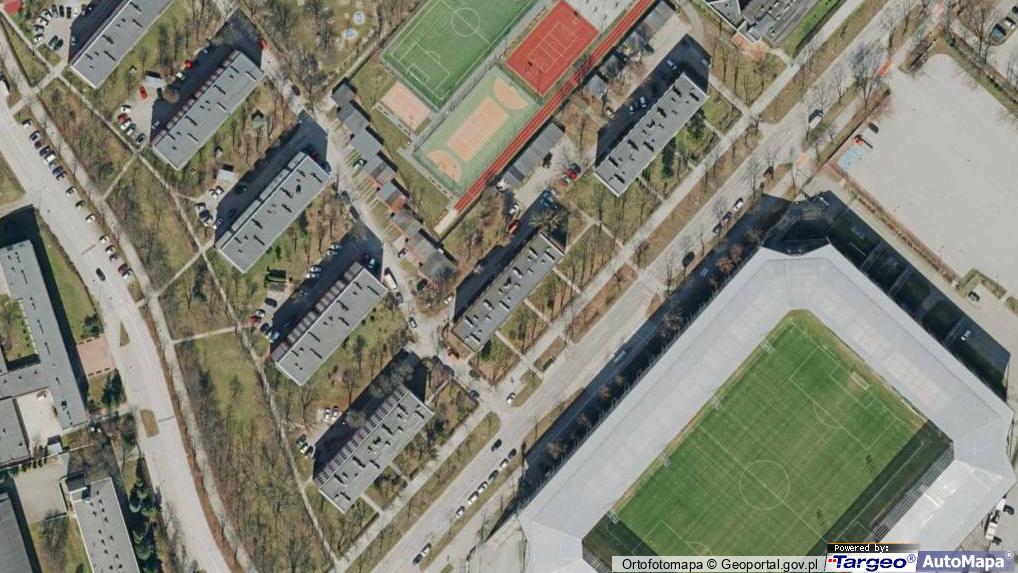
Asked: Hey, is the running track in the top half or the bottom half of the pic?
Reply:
top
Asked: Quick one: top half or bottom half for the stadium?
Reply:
bottom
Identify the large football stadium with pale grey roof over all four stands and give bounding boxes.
[512,235,1018,573]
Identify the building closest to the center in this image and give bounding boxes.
[452,230,565,351]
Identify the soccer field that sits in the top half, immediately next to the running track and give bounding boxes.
[382,0,535,108]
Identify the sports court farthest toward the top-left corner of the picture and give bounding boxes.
[380,81,431,131]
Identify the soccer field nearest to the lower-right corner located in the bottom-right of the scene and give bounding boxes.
[586,309,941,573]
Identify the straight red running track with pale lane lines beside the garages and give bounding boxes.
[453,0,651,216]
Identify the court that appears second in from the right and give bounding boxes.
[414,66,540,195]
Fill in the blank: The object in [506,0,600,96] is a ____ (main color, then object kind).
red basketball court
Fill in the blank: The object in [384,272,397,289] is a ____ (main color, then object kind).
white vehicle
